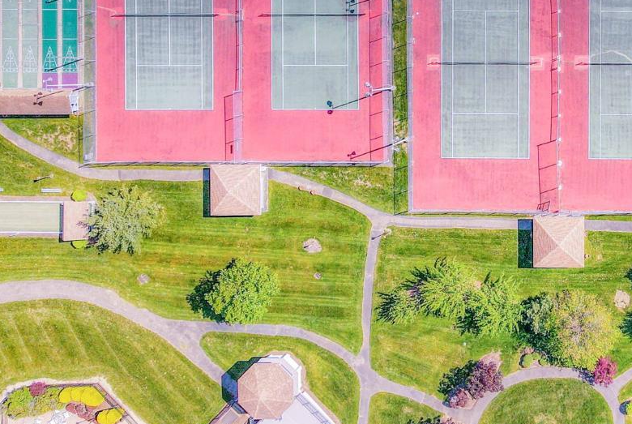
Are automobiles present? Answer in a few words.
No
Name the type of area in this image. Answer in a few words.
sports ground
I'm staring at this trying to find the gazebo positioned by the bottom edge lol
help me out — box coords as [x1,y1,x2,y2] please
[239,354,299,418]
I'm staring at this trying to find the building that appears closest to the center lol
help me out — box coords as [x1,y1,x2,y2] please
[209,163,267,217]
